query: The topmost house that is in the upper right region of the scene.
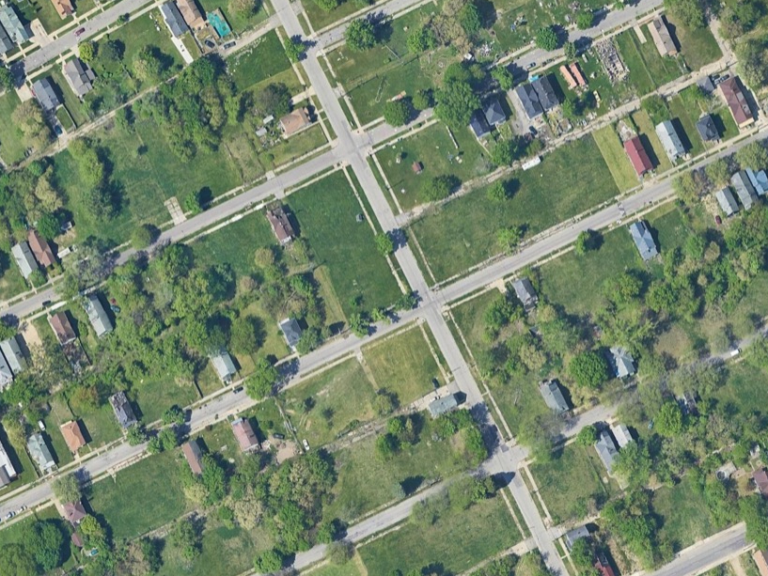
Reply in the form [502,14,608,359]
[648,14,680,59]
